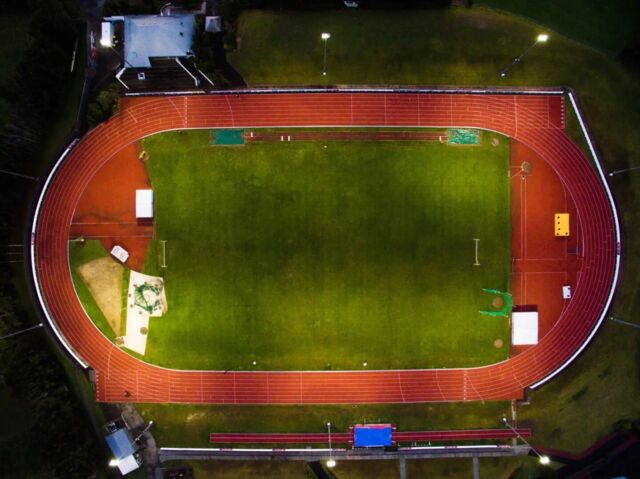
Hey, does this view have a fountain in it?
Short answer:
No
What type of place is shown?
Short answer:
sports ground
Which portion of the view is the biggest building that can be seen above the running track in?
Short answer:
top left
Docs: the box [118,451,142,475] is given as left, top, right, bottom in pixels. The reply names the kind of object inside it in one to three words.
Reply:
shed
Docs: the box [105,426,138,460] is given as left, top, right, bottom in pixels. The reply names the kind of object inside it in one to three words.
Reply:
shed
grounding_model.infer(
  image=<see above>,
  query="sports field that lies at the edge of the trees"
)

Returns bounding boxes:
[69,127,583,371]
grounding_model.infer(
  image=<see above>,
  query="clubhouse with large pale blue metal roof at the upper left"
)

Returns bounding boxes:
[124,14,197,69]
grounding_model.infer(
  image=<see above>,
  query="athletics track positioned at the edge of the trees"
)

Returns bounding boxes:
[36,93,615,405]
